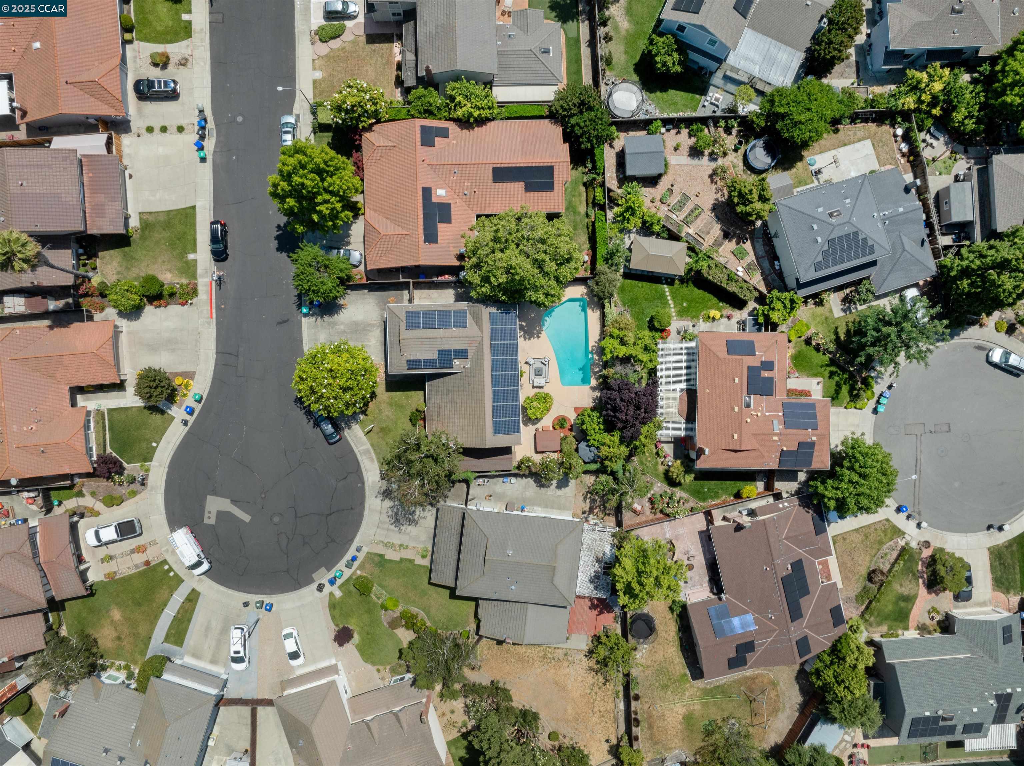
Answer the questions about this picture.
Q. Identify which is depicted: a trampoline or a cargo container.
trampoline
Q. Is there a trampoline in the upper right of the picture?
Yes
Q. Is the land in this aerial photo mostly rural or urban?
urban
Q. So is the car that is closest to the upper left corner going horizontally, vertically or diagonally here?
horizontally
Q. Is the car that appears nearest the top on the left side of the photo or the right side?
left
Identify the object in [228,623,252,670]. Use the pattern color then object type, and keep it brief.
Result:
white car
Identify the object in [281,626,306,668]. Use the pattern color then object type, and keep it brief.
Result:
white car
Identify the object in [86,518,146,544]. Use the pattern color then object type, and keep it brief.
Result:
white truck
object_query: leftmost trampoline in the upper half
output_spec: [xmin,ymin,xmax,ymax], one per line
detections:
[607,76,646,118]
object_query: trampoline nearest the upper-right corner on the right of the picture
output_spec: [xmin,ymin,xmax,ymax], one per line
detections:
[744,136,780,169]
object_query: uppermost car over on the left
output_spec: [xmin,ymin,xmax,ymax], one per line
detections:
[322,0,364,22]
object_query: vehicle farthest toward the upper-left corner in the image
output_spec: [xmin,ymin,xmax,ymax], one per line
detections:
[135,77,183,101]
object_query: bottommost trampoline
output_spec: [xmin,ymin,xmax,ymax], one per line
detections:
[629,615,658,644]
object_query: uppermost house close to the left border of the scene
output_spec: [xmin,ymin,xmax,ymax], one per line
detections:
[0,0,134,128]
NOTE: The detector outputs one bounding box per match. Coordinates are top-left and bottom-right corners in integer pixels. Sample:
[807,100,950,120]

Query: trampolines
[744,136,780,169]
[629,615,658,644]
[607,76,646,118]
